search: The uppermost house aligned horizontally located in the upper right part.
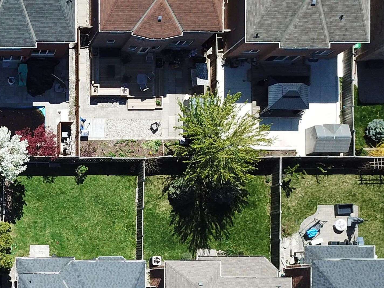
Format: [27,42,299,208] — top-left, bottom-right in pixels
[226,0,371,63]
